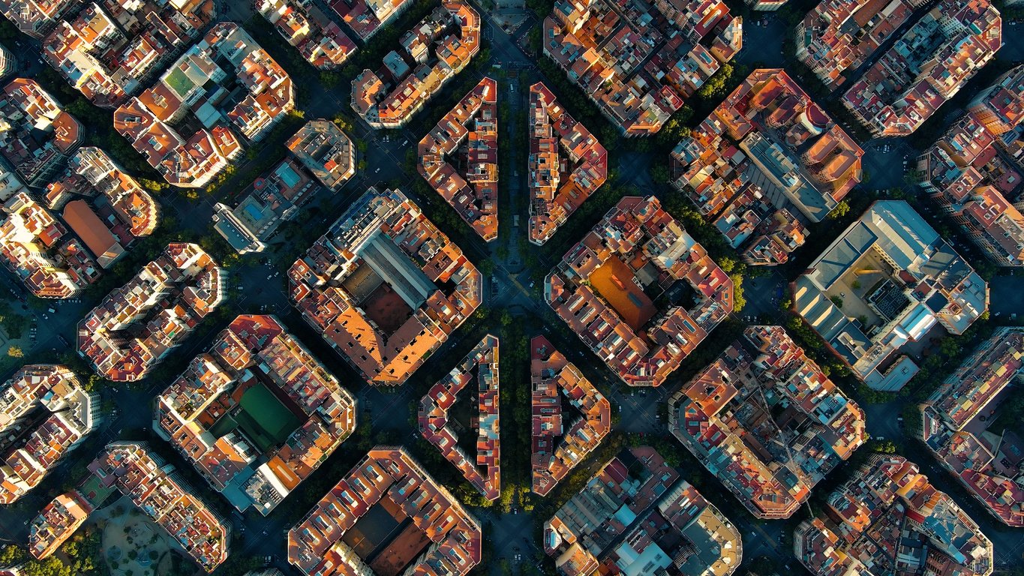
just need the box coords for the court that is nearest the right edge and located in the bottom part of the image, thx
[232,401,275,453]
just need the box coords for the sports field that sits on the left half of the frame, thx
[240,381,304,447]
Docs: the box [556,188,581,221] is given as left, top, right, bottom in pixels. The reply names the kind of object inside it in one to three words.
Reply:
house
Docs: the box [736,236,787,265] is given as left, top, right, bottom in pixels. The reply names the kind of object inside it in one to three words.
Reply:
building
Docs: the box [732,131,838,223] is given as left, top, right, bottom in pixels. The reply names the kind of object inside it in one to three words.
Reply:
building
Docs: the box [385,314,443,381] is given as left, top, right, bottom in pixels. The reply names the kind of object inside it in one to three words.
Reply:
house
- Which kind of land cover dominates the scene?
buildings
